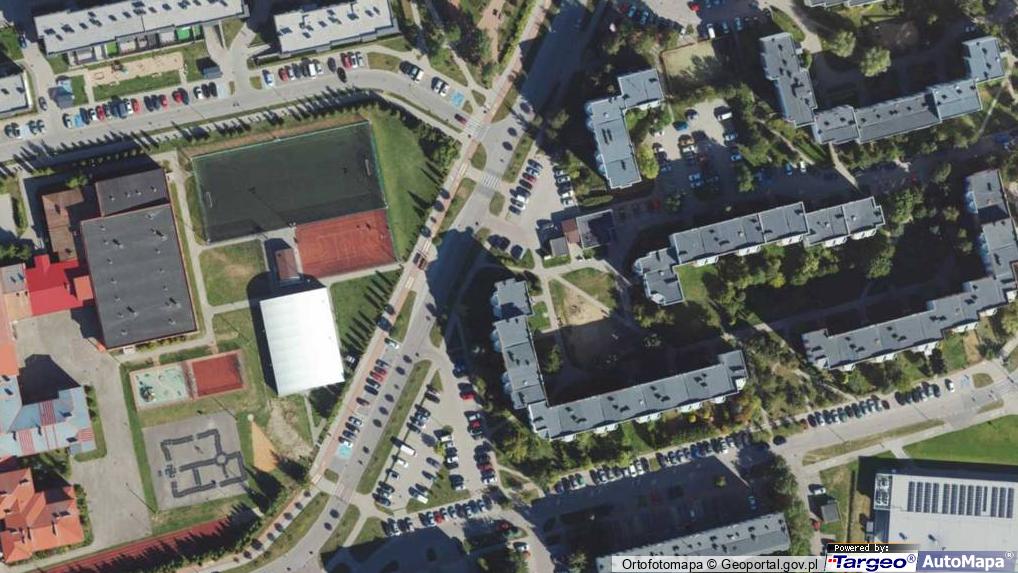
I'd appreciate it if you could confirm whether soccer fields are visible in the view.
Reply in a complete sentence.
Yes, the frame does contain a soccer field.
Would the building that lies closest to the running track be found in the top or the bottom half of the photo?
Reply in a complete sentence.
Seen from above, the building that lies closest to the running track lies in the bottom half of the view.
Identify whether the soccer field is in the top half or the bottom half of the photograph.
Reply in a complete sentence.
The soccer field is in the top half of the image.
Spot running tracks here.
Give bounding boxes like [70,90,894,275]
[36,515,238,573]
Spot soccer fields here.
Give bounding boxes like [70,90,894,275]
[192,119,398,260]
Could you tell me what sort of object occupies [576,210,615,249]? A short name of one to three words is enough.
building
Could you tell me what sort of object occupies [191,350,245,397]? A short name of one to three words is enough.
sports court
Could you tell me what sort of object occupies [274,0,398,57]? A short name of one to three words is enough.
building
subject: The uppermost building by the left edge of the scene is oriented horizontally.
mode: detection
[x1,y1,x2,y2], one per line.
[34,0,248,65]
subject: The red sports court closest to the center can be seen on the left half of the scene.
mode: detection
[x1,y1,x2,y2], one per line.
[295,209,396,278]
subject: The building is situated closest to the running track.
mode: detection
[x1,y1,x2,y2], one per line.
[0,469,84,562]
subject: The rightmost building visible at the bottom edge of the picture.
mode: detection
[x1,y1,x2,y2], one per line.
[886,475,1018,573]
